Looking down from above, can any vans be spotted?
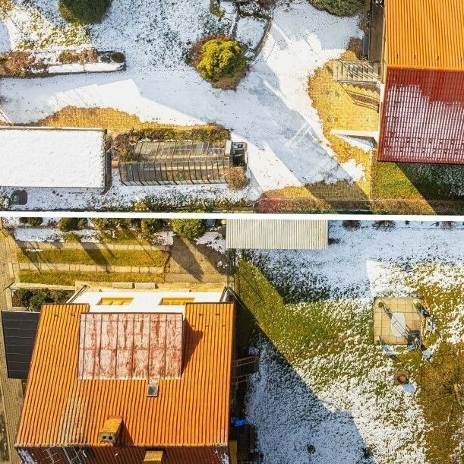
No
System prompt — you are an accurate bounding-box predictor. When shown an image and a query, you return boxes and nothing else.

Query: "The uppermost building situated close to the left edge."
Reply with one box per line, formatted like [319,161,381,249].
[0,126,117,189]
